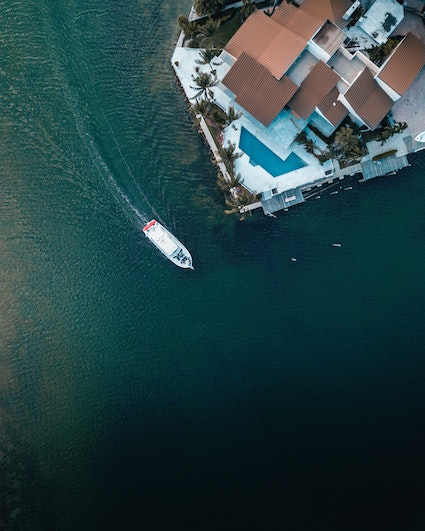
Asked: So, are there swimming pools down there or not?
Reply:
Yes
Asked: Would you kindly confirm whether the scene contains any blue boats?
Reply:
No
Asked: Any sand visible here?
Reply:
No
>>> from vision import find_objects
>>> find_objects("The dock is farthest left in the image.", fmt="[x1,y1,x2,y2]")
[262,188,306,215]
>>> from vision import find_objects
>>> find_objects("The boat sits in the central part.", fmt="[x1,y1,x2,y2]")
[142,218,195,271]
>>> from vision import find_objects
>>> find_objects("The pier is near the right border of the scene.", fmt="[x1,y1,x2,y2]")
[360,151,410,181]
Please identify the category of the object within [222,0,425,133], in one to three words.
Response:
house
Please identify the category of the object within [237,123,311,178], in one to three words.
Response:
swimming pool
